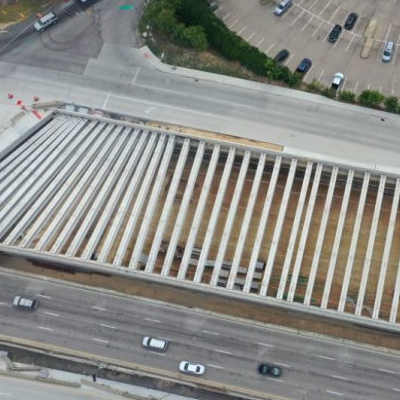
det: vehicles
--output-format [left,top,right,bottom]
[258,363,283,377]
[36,12,57,30]
[295,56,313,77]
[328,68,347,94]
[143,336,170,351]
[14,295,38,310]
[343,10,358,31]
[273,47,292,64]
[274,0,293,16]
[180,361,205,375]
[328,23,343,43]
[382,40,395,62]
